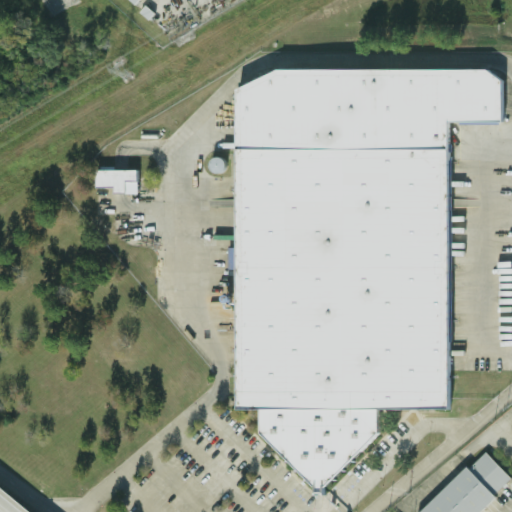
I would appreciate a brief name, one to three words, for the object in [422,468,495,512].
building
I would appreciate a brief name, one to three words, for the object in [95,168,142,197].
building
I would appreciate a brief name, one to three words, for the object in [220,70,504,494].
warehouse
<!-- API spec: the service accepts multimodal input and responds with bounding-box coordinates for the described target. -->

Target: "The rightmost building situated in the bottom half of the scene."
[472,453,511,494]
